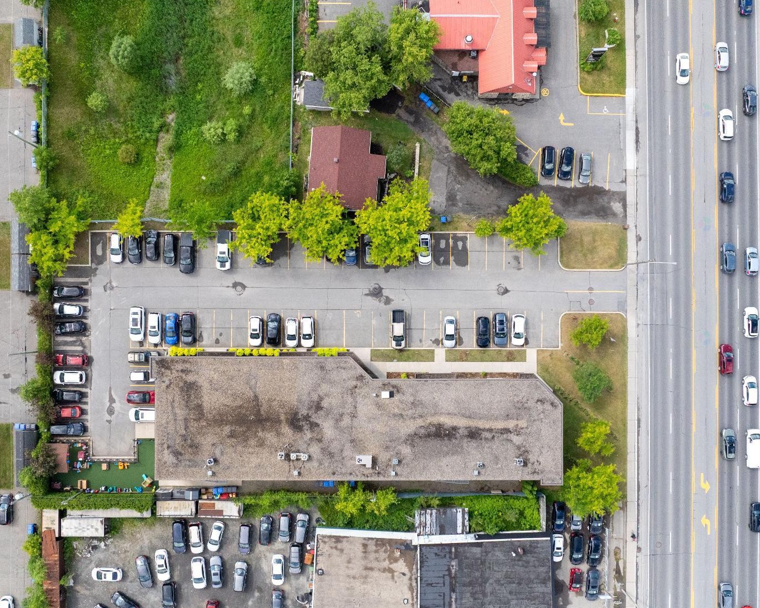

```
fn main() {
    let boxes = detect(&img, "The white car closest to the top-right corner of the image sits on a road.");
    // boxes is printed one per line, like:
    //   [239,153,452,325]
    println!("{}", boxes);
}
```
[713,43,730,73]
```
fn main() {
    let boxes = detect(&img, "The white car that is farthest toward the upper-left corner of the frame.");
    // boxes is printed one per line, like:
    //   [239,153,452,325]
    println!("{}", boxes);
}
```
[108,232,125,263]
